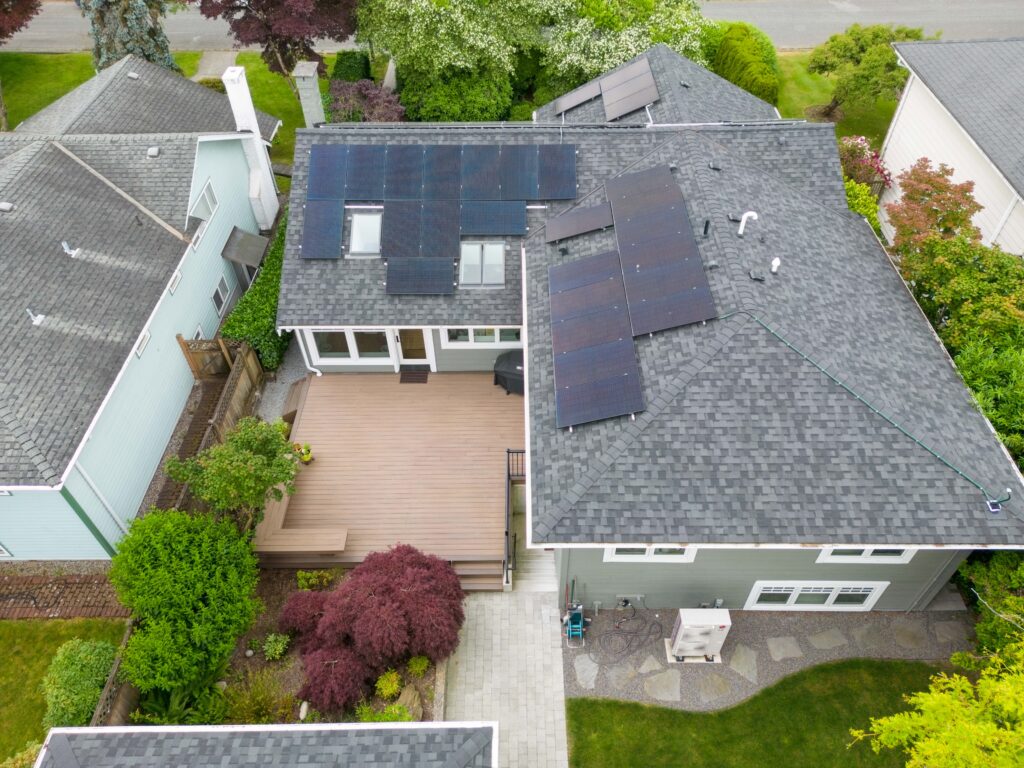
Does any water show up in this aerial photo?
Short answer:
No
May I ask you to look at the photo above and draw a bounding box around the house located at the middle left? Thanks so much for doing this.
[0,53,290,559]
